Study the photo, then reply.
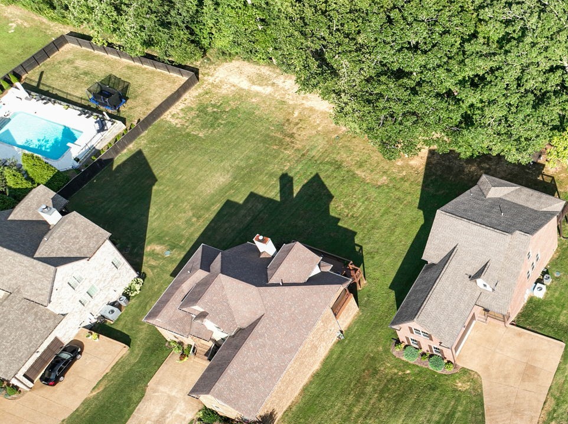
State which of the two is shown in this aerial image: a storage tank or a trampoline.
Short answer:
trampoline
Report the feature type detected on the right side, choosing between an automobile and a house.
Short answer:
house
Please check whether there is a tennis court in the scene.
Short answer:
No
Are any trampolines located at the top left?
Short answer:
Yes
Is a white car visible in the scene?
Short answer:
No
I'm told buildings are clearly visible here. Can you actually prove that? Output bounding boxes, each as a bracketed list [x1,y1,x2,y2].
[0,183,137,390]
[389,174,568,364]
[142,233,365,424]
